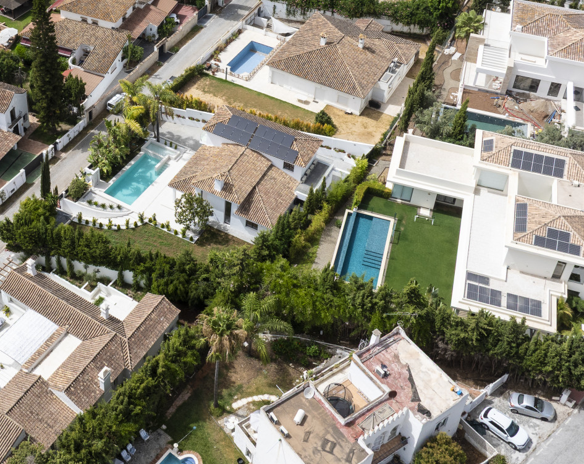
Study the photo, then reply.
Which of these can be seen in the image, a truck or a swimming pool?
swimming pool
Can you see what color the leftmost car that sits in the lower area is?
white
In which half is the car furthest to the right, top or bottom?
bottom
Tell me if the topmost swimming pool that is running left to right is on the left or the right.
right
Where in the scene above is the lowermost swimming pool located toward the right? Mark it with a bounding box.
[326,205,397,293]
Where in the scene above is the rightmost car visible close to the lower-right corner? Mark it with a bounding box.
[508,390,557,426]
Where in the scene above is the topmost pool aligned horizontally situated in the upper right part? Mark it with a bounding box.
[425,99,532,139]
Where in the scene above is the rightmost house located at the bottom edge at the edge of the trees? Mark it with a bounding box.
[233,322,468,464]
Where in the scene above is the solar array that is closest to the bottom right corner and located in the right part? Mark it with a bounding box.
[508,292,543,317]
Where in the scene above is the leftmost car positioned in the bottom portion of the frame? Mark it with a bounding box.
[477,406,531,450]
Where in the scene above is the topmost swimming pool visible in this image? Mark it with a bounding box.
[225,38,277,75]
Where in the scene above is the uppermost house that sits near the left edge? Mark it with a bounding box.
[20,0,177,100]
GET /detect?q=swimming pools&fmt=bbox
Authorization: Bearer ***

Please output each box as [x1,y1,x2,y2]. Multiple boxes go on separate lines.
[140,137,184,160]
[152,444,200,464]
[425,99,532,139]
[225,38,277,75]
[98,148,174,208]
[326,205,397,293]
